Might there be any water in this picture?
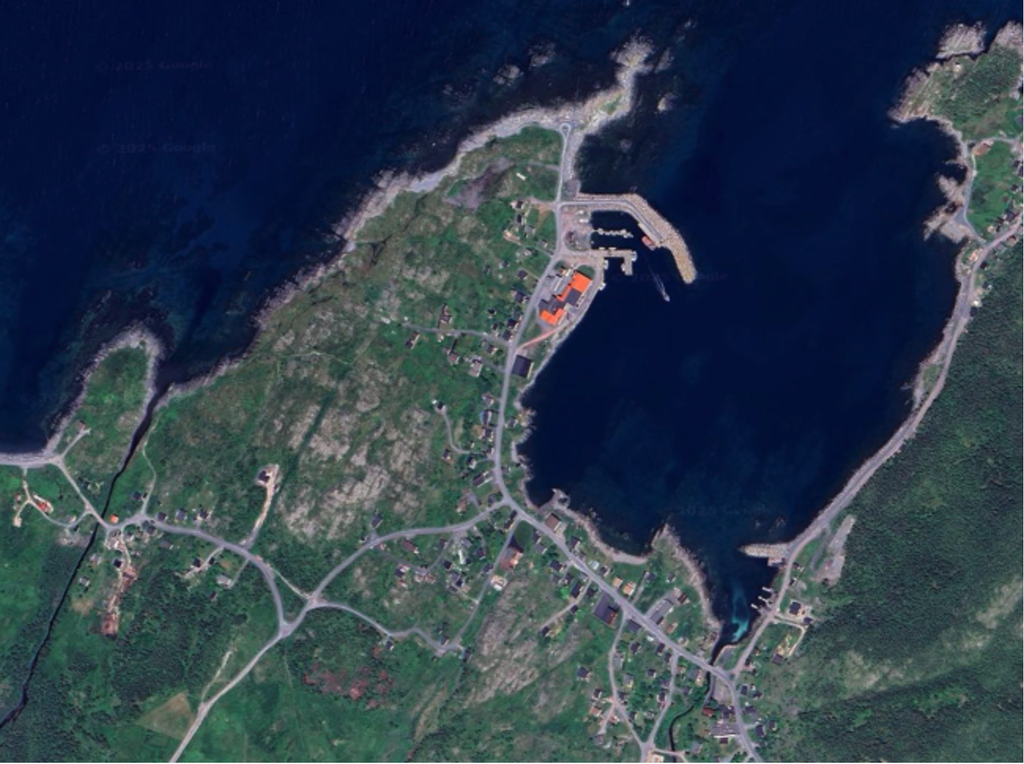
Yes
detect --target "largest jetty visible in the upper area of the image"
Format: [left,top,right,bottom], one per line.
[588,249,634,276]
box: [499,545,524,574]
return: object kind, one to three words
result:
building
